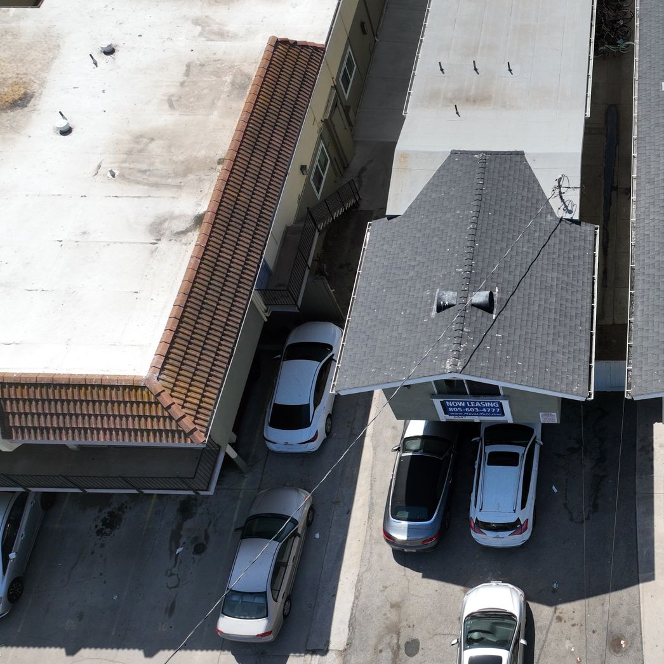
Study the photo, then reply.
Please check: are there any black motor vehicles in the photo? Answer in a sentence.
Yes, looking at the shot, I can spot a black motor vehicle.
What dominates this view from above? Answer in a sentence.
Most of the picture is covered by buildings.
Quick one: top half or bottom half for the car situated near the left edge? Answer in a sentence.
The car situated near the left edge is in the bottom half of the image.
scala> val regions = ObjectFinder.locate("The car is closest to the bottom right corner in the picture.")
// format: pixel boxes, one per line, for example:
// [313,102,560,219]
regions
[446,581,532,664]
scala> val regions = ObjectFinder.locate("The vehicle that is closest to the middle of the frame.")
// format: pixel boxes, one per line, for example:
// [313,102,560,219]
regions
[265,324,342,453]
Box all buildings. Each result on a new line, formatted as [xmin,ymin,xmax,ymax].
[622,0,664,424]
[330,0,601,424]
[0,0,388,495]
